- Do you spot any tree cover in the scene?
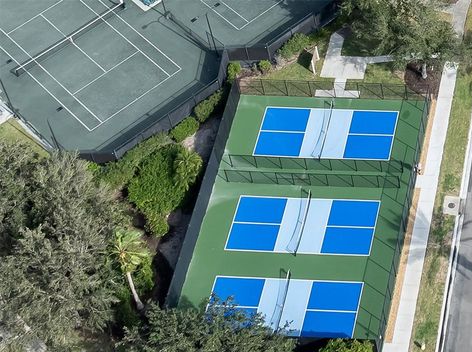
Yes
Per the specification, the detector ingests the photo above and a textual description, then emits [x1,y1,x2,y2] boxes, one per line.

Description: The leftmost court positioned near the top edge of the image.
[0,0,178,129]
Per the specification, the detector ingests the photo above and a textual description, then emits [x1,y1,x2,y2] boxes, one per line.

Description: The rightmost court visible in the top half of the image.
[253,107,399,160]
